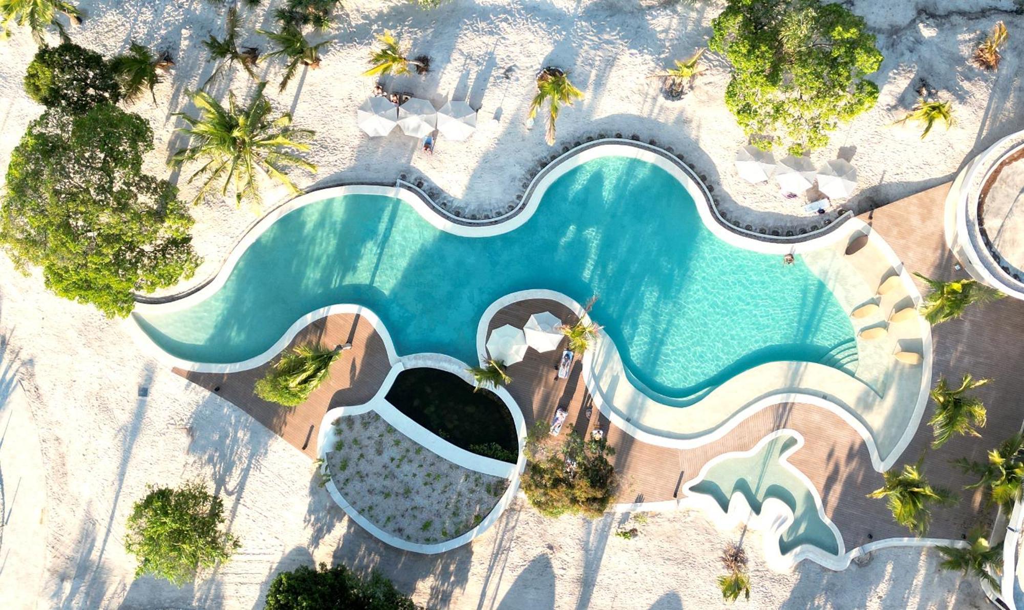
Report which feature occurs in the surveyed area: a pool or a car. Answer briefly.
pool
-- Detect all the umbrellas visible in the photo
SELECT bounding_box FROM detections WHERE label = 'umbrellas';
[776,155,815,194]
[487,325,526,364]
[437,101,477,140]
[817,158,857,199]
[524,311,565,353]
[736,144,776,184]
[358,98,397,137]
[397,98,437,138]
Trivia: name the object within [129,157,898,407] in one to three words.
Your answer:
swimming pool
